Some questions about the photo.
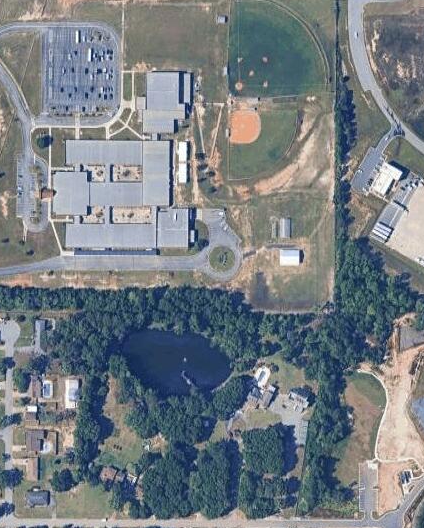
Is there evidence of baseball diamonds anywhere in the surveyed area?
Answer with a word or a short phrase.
Yes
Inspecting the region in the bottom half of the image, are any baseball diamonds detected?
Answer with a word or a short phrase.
No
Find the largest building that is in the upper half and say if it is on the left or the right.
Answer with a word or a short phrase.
left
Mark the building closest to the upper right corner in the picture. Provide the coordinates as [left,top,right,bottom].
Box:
[369,162,403,196]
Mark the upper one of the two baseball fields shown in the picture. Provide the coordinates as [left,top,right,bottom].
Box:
[226,0,329,103]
